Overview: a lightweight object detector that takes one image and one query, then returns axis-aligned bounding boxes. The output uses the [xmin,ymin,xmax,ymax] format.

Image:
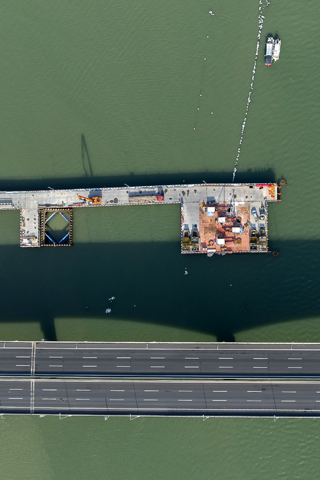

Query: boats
[265,40,272,66]
[272,40,279,62]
